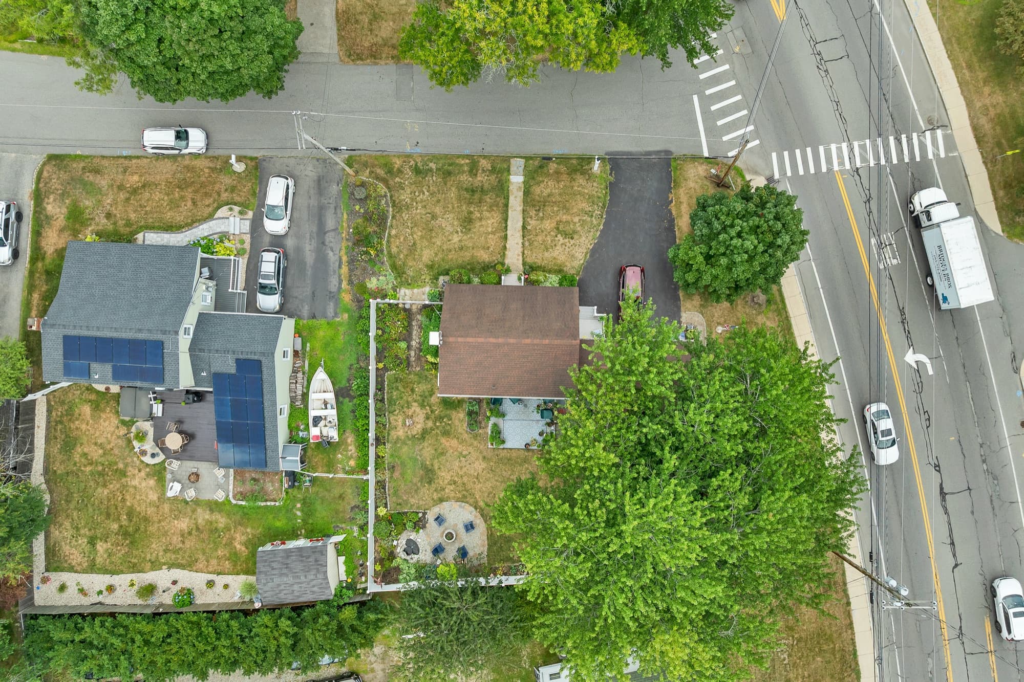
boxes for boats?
[309,366,337,449]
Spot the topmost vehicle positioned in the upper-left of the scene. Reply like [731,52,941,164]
[141,124,209,157]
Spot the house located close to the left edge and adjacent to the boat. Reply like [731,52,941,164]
[26,240,309,471]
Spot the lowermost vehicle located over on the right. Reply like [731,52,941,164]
[988,574,1024,642]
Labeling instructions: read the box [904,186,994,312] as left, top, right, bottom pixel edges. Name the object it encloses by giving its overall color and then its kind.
white truck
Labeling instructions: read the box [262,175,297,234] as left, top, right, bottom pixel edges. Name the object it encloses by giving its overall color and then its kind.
white car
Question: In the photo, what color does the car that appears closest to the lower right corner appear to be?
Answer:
white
